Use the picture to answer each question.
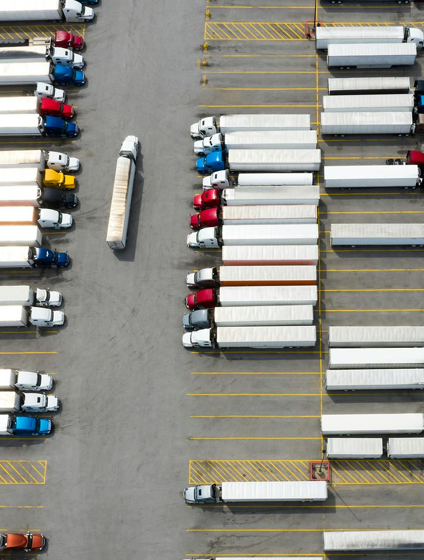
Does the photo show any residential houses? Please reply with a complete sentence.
No, there's no residential house here.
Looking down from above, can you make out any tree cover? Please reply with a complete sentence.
No, no tree cover is visible.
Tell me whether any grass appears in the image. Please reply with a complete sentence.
No, there's no grass in this view.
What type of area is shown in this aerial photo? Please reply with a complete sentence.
What you see here is a parking lot.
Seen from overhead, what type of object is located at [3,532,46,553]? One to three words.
vehicle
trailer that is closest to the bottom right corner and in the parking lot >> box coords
[321,531,424,552]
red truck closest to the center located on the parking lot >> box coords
[185,288,220,310]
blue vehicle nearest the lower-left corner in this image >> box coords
[1,416,52,435]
